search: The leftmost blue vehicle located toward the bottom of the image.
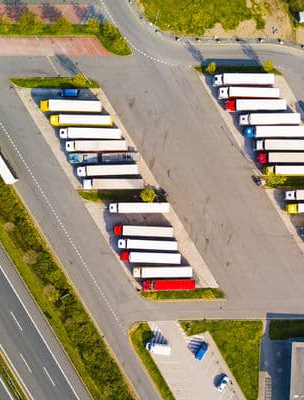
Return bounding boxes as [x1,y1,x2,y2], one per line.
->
[196,339,210,359]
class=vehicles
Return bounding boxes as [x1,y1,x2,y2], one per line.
[264,165,304,177]
[0,145,22,187]
[134,265,194,277]
[217,373,231,391]
[244,127,304,139]
[284,190,304,201]
[67,141,130,152]
[144,278,196,290]
[115,224,175,237]
[255,140,304,152]
[214,74,275,88]
[42,100,105,114]
[284,203,304,214]
[121,251,182,263]
[119,238,179,250]
[148,341,173,355]
[196,339,210,359]
[84,179,146,190]
[71,152,141,164]
[226,100,286,112]
[60,128,124,141]
[110,201,171,213]
[239,114,300,127]
[63,89,81,98]
[257,153,304,164]
[78,165,142,177]
[52,114,116,127]
[218,87,280,101]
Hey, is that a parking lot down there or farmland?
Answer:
parking lot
